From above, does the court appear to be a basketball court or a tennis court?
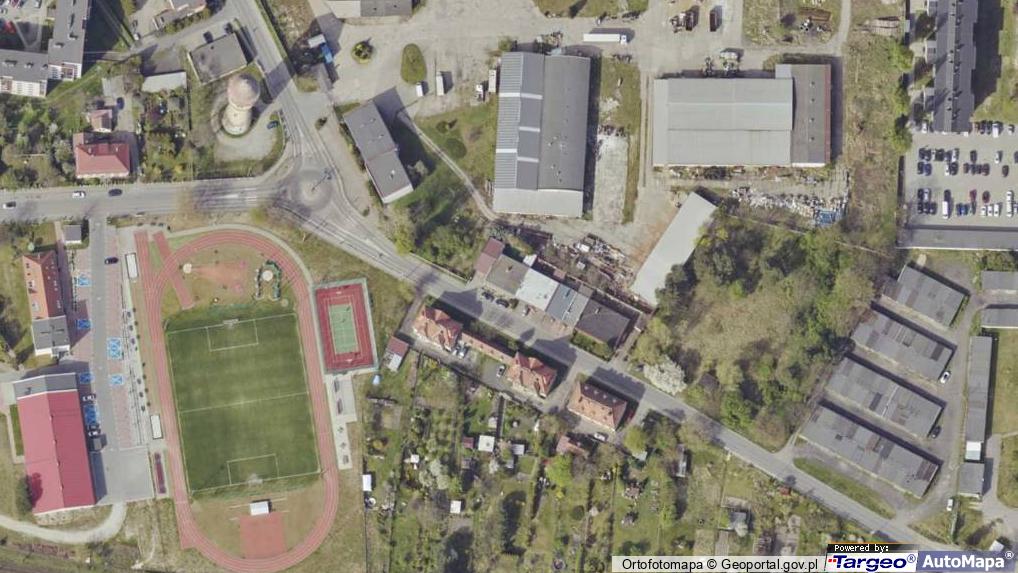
basketball court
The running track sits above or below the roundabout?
below it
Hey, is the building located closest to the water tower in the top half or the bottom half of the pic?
top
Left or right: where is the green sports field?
left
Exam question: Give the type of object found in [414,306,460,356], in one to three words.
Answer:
house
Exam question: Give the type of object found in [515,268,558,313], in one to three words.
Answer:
building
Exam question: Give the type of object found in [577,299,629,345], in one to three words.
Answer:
house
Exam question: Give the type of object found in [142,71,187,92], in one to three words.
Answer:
shed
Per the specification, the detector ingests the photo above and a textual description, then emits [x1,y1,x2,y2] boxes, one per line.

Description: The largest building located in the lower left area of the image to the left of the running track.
[18,389,95,517]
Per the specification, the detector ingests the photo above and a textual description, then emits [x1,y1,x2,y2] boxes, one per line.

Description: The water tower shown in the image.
[219,75,259,139]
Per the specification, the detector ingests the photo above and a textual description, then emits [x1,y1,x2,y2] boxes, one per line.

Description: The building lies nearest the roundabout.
[342,102,411,202]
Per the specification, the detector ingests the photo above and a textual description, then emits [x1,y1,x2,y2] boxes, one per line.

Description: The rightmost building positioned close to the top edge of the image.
[921,0,978,141]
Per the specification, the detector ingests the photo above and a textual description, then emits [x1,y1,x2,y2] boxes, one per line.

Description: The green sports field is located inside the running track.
[166,299,322,499]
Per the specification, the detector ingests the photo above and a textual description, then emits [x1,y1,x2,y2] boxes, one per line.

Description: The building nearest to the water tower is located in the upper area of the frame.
[189,33,247,87]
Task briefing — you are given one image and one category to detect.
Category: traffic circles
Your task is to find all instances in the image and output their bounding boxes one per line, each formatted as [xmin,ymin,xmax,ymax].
[279,159,345,221]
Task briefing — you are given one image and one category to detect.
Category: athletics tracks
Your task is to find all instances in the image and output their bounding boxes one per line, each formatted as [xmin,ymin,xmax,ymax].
[134,231,340,573]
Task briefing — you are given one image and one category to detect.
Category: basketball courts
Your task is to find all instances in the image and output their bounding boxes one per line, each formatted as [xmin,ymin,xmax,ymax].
[313,279,379,376]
